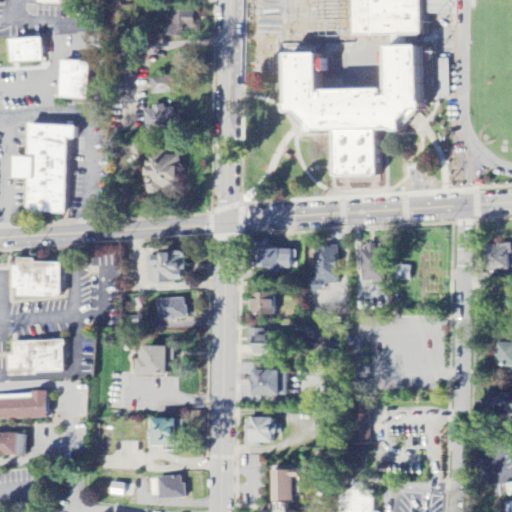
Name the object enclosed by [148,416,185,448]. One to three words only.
house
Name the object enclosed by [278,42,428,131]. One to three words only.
building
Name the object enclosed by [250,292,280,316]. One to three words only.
house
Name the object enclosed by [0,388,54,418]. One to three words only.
building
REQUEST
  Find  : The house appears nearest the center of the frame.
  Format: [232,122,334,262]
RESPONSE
[258,246,299,270]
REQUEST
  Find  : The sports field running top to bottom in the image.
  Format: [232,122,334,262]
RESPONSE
[473,0,512,159]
